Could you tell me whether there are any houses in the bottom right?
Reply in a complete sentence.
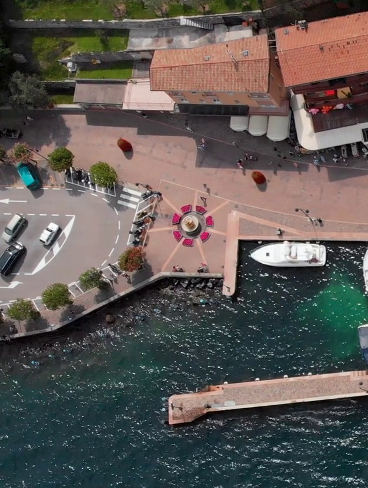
No, I can find no house in the bottom right.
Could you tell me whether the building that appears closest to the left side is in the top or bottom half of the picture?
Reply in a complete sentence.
The building that appears closest to the left side sits in the top half of the picture.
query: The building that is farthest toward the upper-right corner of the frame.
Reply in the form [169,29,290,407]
[275,11,368,102]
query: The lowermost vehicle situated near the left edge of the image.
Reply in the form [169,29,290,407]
[0,240,29,275]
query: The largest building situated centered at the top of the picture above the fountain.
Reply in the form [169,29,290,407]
[149,34,289,120]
